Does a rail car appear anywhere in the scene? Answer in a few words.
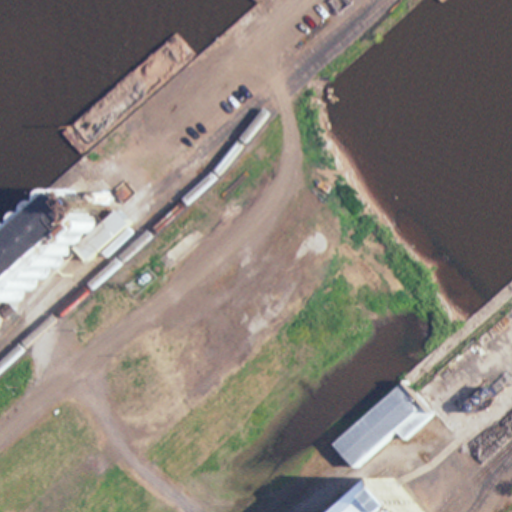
Yes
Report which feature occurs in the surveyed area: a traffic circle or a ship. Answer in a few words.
ship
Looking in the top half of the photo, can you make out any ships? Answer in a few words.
Yes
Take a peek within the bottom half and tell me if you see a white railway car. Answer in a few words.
Yes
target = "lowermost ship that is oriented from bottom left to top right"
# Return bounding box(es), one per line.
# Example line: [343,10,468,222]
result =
[62,33,194,154]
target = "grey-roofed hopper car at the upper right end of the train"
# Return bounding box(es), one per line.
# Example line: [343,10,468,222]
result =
[240,104,274,140]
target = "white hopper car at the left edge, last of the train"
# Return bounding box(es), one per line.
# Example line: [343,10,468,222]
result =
[0,346,24,375]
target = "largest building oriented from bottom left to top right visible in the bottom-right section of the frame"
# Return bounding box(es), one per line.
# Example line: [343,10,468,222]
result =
[332,387,420,468]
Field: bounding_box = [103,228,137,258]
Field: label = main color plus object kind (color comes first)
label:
white rail car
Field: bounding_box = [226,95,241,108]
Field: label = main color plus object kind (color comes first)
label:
white vehicle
